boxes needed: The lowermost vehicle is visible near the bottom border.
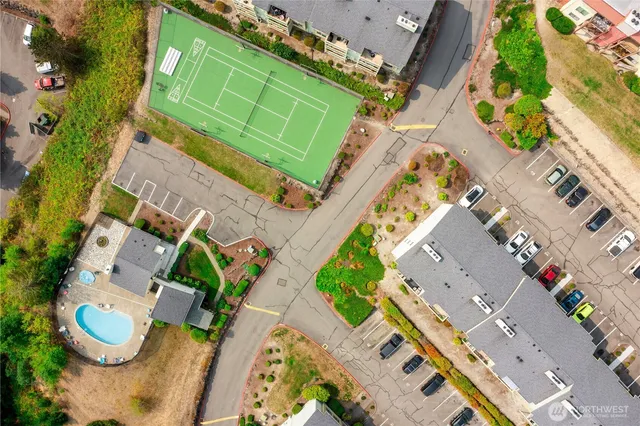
[448,404,474,426]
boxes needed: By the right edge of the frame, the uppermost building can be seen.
[561,0,640,85]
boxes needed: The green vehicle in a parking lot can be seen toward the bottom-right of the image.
[571,300,596,322]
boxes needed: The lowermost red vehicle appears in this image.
[536,263,562,286]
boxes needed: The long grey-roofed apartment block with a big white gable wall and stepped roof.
[391,204,640,426]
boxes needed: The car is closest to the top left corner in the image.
[20,22,38,48]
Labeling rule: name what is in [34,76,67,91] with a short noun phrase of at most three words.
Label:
vehicle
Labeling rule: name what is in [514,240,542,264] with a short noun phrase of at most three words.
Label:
car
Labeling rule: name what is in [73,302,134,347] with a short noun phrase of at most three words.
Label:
swimming pool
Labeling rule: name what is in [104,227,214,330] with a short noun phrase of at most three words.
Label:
building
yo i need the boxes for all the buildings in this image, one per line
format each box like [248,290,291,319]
[288,404,346,426]
[104,227,214,330]
[561,0,640,85]
[208,0,434,82]
[391,204,640,426]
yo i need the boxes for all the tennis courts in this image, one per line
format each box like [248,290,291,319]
[148,6,361,187]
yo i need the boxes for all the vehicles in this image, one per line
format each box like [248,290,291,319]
[448,404,474,426]
[34,76,67,91]
[514,240,542,264]
[571,300,596,322]
[559,286,585,312]
[377,332,406,359]
[584,207,611,231]
[20,22,38,48]
[400,352,424,375]
[544,164,567,186]
[564,186,589,210]
[604,228,634,258]
[34,61,60,75]
[554,174,581,198]
[503,229,529,254]
[458,184,484,210]
[536,263,562,286]
[420,371,446,396]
